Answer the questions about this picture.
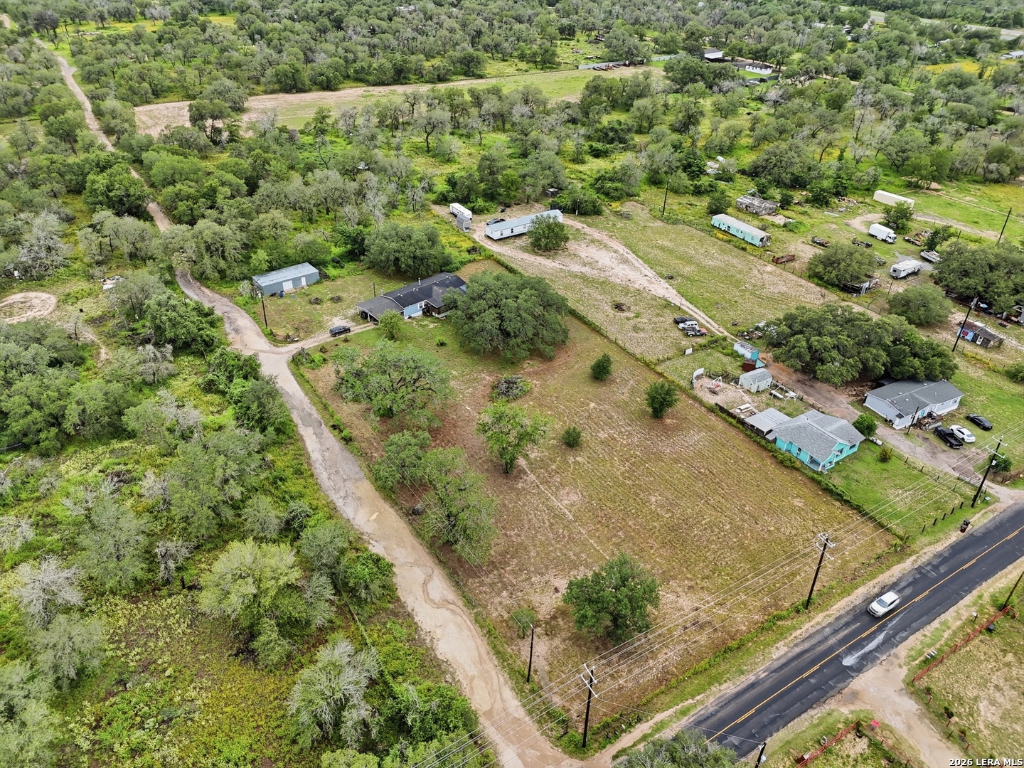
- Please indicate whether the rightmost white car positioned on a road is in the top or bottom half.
bottom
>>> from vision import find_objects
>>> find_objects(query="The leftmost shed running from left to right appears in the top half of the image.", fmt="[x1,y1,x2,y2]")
[250,260,318,295]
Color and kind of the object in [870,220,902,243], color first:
white truck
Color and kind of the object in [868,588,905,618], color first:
white car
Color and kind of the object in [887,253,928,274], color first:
white vehicle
